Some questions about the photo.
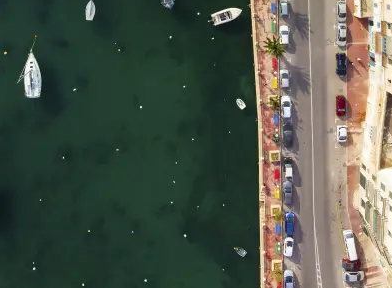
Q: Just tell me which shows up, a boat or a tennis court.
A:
boat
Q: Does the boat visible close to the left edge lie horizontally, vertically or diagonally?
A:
vertically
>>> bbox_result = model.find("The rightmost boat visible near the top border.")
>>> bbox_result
[209,9,242,28]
